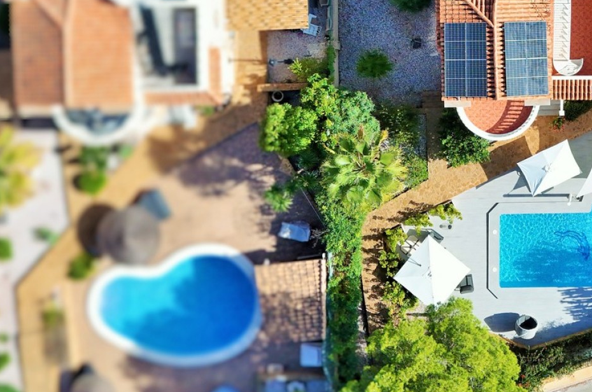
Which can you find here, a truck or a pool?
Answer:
pool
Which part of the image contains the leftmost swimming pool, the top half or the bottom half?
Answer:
bottom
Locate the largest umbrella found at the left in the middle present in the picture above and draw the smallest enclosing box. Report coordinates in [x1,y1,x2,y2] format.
[97,200,166,269]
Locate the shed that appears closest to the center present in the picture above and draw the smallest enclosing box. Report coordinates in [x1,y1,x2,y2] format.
[255,255,328,345]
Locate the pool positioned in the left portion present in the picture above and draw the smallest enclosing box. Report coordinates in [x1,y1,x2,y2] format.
[90,241,259,368]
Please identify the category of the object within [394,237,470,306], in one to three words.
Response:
umbrella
